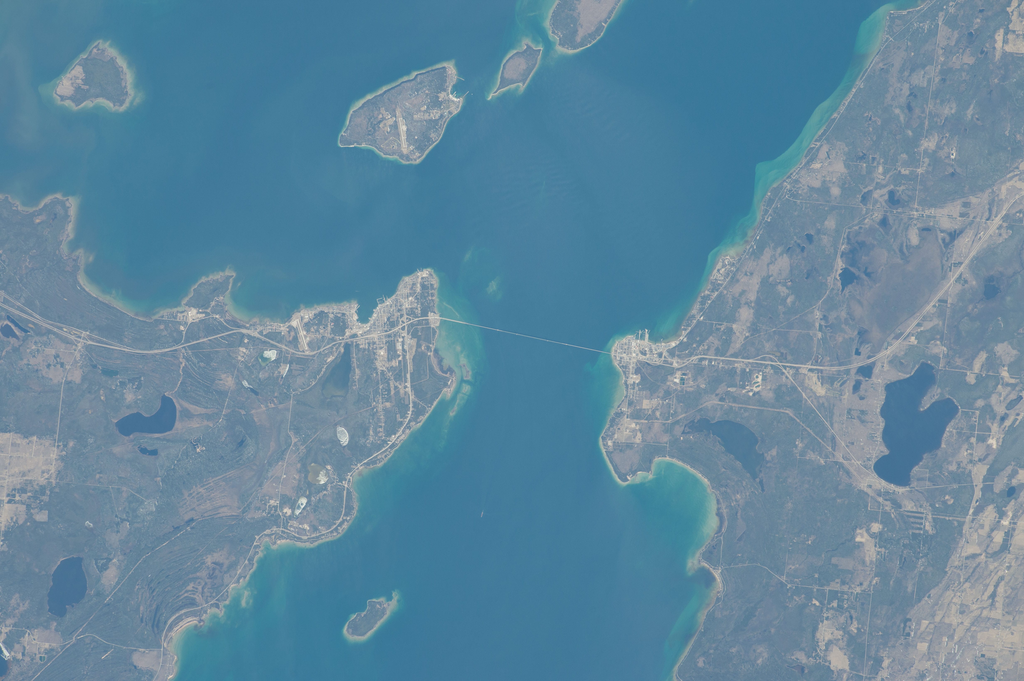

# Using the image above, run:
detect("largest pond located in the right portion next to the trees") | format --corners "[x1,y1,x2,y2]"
[683,418,764,478]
